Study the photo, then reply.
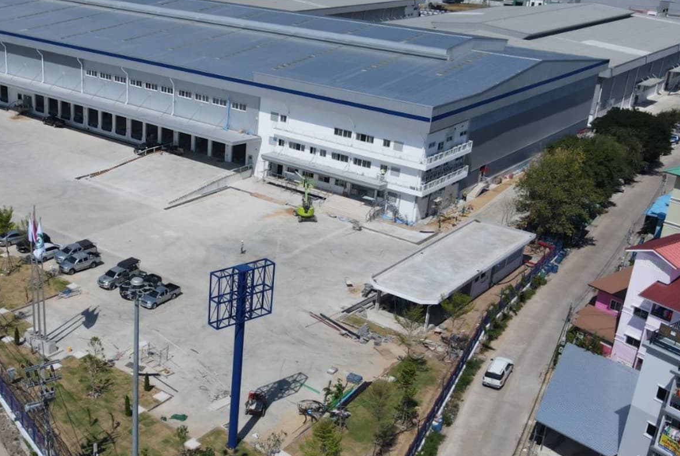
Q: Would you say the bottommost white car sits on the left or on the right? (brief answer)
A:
right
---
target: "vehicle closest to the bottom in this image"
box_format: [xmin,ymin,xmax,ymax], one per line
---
[243,385,277,413]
